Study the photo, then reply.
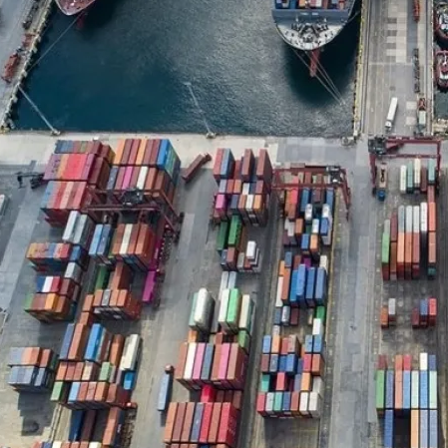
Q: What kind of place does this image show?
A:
port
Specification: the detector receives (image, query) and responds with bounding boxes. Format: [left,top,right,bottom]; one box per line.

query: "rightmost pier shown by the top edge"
[350,0,437,138]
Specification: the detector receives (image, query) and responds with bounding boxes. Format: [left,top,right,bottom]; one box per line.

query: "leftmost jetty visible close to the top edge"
[0,0,48,137]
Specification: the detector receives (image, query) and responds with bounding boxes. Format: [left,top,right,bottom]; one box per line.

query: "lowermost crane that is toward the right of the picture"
[268,164,351,215]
